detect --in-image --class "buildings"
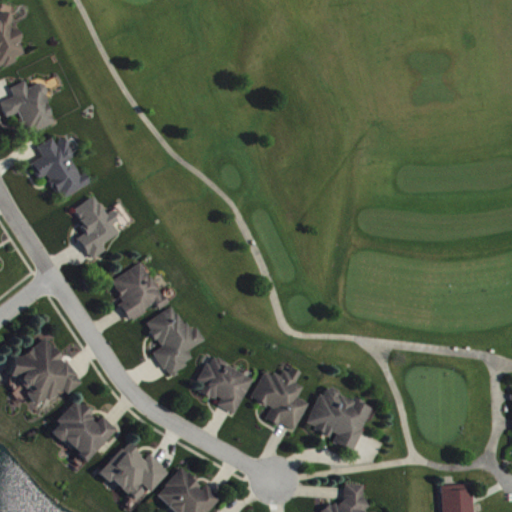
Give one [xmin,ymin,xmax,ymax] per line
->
[74,198,122,257]
[158,470,215,512]
[10,336,77,403]
[318,482,370,512]
[52,403,116,459]
[252,364,308,434]
[197,358,249,416]
[114,264,169,320]
[308,388,374,452]
[146,307,204,375]
[0,80,56,129]
[102,447,168,508]
[32,136,90,196]
[440,483,472,512]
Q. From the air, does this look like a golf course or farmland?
golf course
